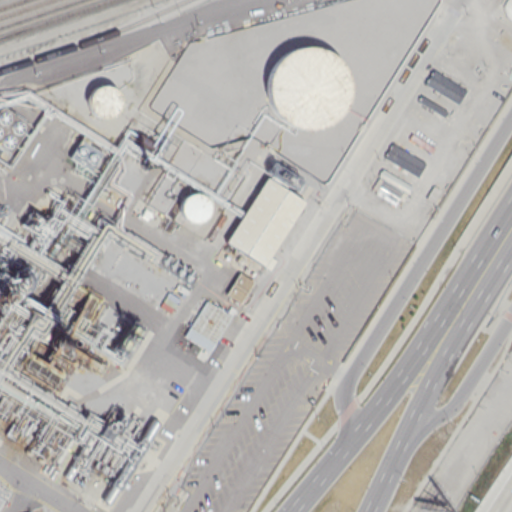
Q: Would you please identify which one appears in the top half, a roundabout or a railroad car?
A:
railroad car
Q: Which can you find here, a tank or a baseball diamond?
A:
tank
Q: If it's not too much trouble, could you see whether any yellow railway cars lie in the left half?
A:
No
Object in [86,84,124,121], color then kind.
white storage tank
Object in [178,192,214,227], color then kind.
white storage tank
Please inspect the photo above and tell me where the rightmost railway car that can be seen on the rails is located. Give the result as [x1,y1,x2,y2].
[75,28,120,46]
